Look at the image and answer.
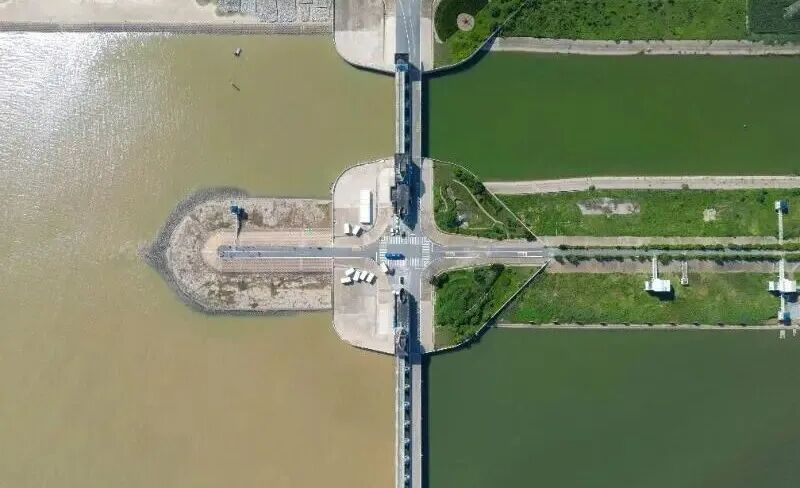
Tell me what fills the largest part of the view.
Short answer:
water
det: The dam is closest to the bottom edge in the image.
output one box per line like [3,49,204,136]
[395,354,422,488]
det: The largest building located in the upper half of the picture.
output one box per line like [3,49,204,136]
[391,154,411,222]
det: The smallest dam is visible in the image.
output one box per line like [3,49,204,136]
[395,73,422,157]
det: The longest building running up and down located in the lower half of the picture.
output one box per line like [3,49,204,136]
[393,287,409,354]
